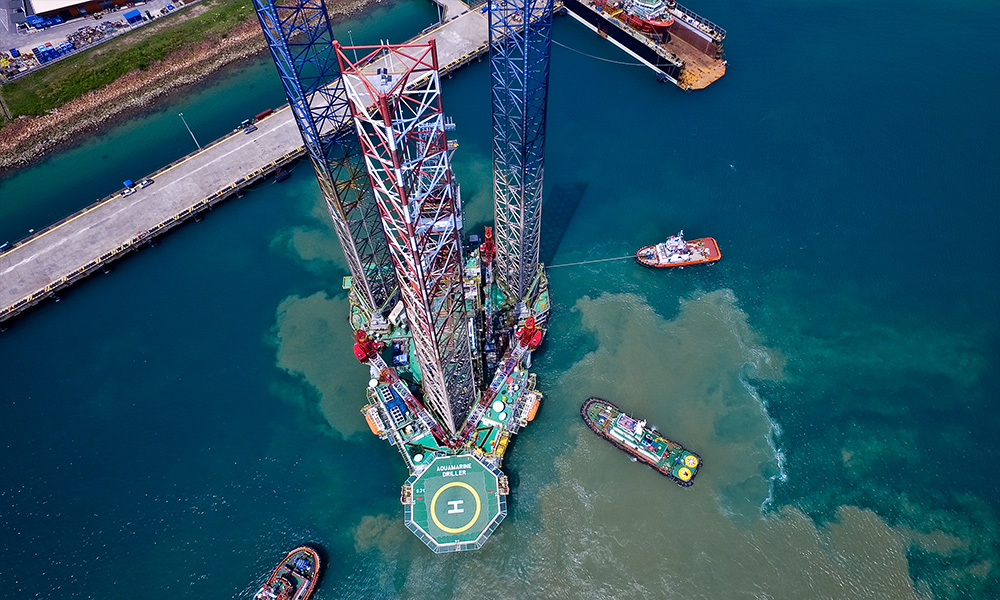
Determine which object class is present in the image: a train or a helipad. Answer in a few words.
helipad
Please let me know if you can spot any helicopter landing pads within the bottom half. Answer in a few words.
Yes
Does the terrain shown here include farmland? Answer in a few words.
No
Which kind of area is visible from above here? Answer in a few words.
port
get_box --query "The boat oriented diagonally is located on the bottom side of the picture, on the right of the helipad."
[580,395,705,487]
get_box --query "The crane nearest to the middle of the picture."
[476,236,500,360]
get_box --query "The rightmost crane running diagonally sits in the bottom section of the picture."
[460,307,546,445]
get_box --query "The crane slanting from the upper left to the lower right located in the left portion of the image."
[348,320,448,444]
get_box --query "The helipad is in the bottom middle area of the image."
[401,448,509,553]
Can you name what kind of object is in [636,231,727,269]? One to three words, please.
boat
